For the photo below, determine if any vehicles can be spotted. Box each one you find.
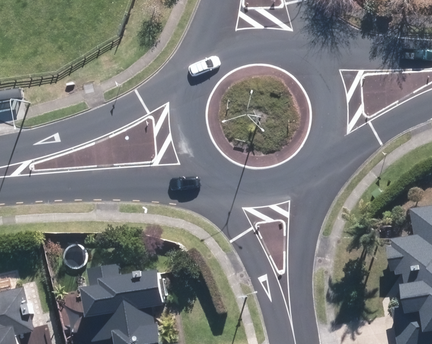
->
[402,46,432,62]
[186,56,222,76]
[168,178,200,194]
